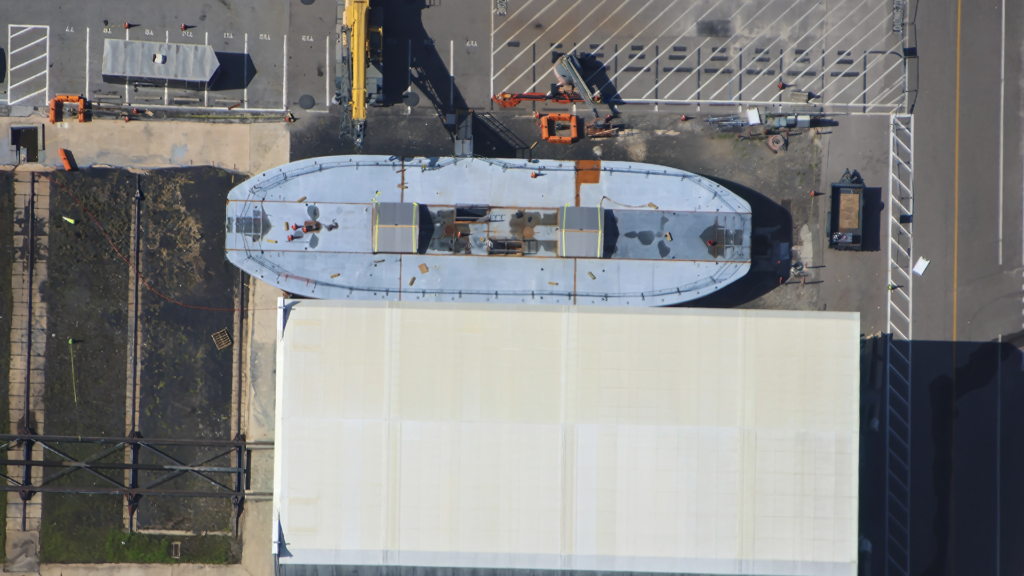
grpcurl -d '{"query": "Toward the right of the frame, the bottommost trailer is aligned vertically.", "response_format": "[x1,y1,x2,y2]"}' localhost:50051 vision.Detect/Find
[827,169,866,251]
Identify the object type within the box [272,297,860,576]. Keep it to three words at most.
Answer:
shed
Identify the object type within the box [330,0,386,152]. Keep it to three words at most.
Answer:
crane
